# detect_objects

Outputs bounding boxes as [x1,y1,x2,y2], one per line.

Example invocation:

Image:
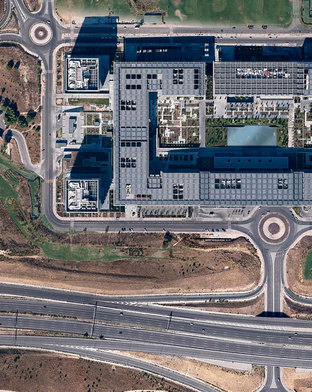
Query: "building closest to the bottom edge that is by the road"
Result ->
[66,173,109,212]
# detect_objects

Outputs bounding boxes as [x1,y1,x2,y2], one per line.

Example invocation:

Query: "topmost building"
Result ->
[65,56,110,91]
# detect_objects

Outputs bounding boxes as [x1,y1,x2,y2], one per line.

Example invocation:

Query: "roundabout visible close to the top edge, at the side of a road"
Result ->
[21,13,61,54]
